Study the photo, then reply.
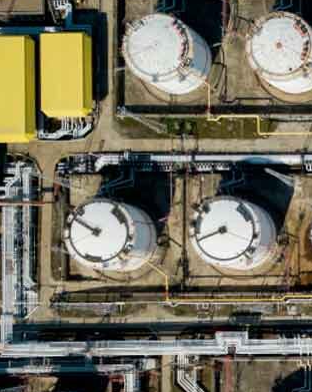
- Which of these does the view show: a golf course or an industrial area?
industrial area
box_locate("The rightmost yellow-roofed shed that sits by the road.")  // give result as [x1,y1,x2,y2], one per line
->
[40,29,95,116]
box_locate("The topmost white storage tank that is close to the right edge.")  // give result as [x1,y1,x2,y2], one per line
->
[246,10,312,97]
